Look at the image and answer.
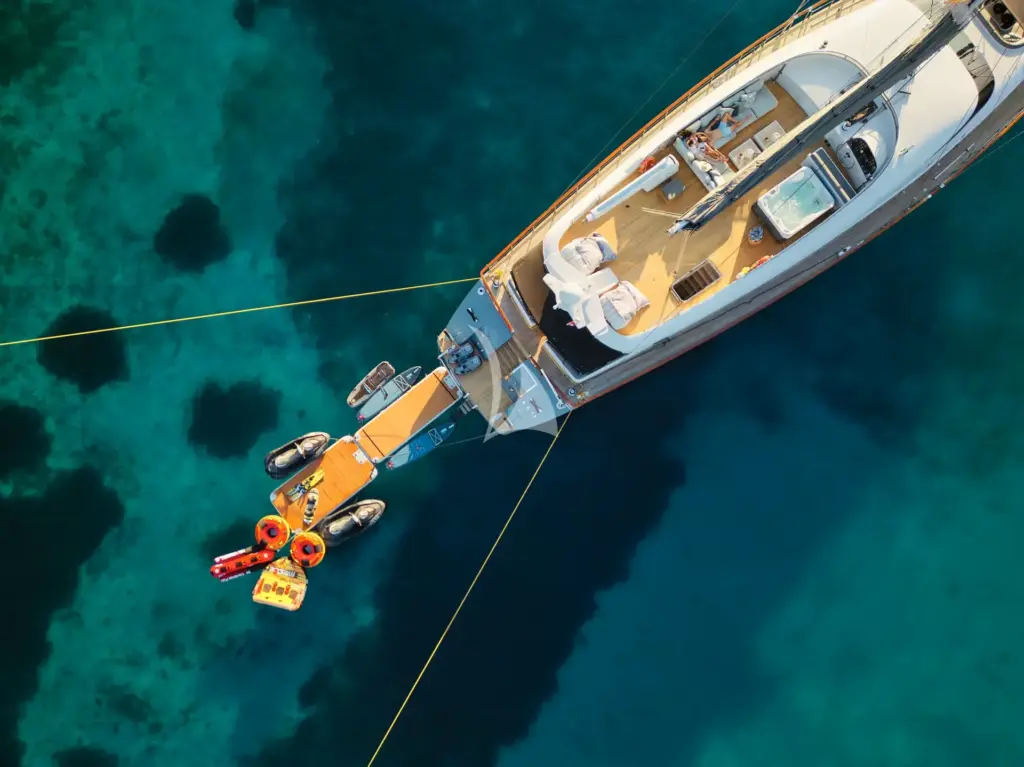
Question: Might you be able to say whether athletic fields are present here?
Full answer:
No, I can't see a single athletic field in this photo.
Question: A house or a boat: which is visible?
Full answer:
Looking from above, you can make out a boat.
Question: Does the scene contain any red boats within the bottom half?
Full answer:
Yes, the scene does show a red boat within the bottom half.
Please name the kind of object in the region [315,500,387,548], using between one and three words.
boat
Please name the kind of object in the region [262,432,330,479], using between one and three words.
boat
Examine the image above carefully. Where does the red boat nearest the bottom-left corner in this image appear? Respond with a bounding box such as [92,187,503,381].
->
[208,548,272,581]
